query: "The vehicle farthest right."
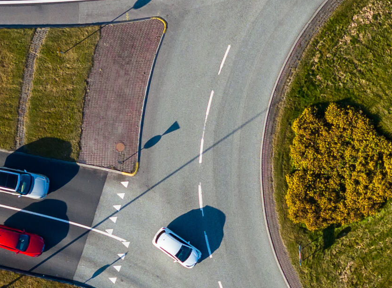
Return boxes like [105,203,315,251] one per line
[152,227,202,268]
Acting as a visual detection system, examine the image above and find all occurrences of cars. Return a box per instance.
[152,227,202,268]
[0,167,50,199]
[0,225,46,256]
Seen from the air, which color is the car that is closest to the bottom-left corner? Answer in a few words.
red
